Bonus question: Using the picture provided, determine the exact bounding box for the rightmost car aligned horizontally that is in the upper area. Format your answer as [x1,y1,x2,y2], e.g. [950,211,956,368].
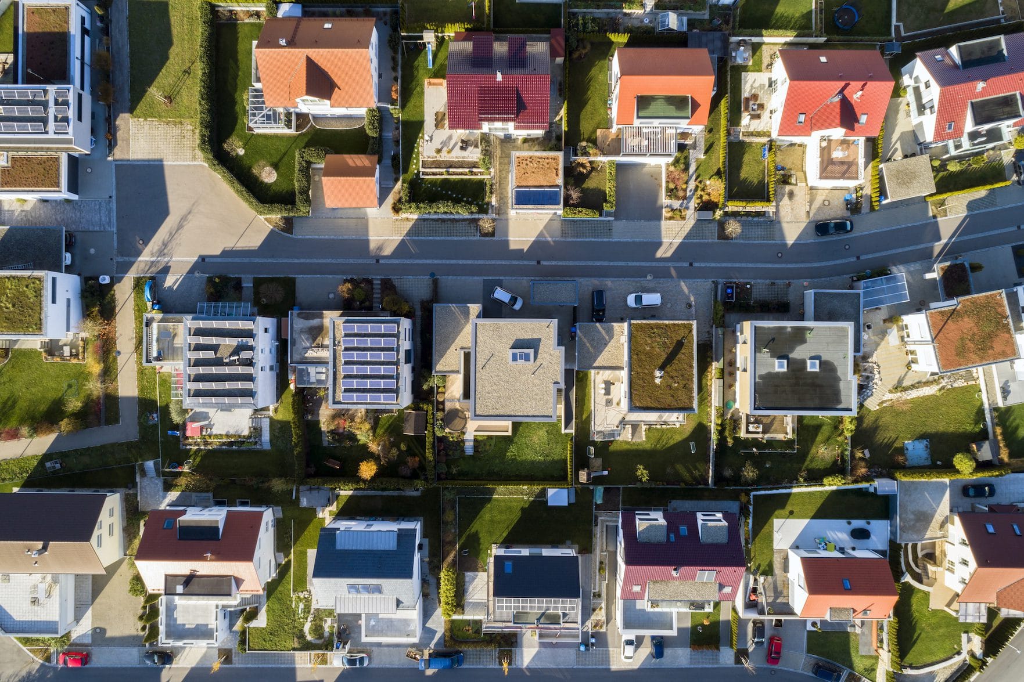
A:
[815,218,854,235]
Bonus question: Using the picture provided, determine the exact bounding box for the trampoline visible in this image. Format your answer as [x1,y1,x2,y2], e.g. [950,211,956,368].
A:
[833,0,863,31]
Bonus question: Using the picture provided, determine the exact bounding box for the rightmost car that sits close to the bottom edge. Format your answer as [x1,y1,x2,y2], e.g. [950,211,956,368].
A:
[809,660,846,682]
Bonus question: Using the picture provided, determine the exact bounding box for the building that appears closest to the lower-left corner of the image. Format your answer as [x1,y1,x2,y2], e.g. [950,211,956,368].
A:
[0,488,126,637]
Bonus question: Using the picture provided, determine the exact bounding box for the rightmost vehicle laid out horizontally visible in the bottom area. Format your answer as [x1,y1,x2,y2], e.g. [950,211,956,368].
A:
[961,483,997,500]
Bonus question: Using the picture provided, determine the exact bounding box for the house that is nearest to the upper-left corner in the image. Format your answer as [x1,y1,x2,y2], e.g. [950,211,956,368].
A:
[0,0,95,148]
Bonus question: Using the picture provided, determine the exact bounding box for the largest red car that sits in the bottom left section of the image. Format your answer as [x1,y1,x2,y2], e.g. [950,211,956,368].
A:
[58,652,89,670]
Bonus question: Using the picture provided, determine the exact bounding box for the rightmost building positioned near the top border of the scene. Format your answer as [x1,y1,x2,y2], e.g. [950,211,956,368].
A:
[893,33,1024,159]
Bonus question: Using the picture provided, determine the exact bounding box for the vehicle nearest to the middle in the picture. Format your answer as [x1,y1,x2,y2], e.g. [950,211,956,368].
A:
[489,284,524,312]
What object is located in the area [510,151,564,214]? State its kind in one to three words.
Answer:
building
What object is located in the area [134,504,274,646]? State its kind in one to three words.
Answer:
house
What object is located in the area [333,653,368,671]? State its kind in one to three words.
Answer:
car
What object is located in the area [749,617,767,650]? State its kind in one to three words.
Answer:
car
